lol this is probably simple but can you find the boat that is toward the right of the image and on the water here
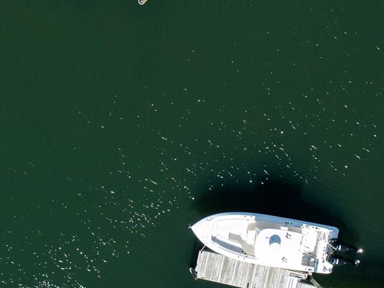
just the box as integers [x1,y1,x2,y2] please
[188,212,360,273]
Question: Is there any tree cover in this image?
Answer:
No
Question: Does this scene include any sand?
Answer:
No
